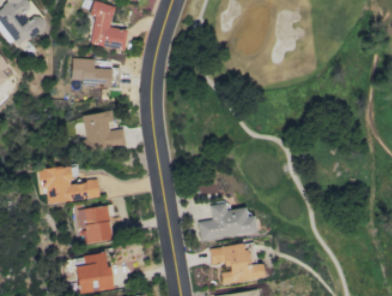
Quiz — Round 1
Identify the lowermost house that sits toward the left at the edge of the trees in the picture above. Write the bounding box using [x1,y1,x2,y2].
[76,253,114,292]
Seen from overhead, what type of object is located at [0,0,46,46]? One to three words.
house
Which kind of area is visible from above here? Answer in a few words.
golf course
